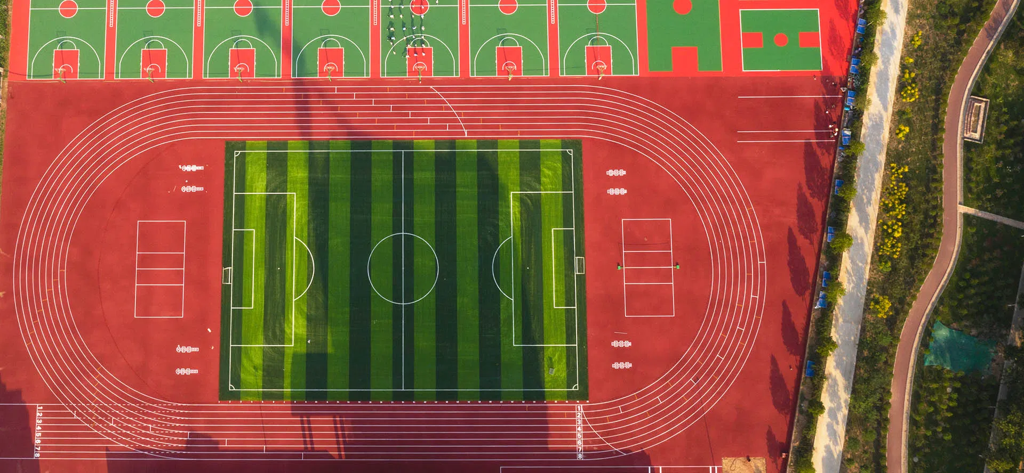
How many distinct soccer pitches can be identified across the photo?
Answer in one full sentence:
The picture shows just 1 soccer pitch.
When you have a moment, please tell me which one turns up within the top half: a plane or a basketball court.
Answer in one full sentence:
You can see a basketball court within the top half.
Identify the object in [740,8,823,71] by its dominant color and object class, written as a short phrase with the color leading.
green sports court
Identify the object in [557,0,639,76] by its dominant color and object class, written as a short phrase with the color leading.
green basketball court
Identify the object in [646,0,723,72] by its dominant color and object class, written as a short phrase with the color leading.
green sports court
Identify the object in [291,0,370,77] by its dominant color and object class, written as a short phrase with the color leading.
green basketball court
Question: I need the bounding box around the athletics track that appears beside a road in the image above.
[0,85,767,471]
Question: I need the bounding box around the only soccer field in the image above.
[219,139,588,401]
